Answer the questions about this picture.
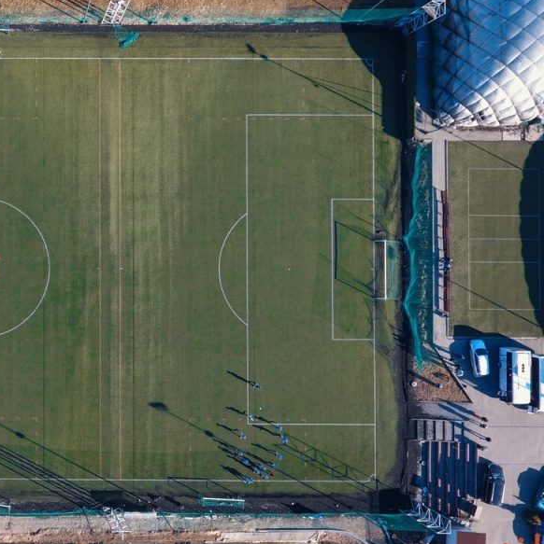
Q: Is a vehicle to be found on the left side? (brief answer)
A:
No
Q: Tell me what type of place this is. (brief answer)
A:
sports ground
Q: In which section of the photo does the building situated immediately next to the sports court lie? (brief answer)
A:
top right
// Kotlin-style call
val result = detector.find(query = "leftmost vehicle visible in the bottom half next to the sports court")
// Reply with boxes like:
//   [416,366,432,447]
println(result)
[465,338,489,378]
